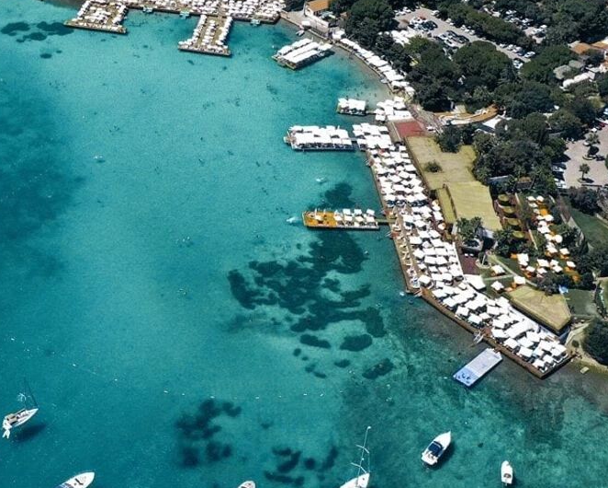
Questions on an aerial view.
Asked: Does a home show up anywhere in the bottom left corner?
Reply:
No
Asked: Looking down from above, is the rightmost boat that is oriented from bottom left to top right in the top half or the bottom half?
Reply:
bottom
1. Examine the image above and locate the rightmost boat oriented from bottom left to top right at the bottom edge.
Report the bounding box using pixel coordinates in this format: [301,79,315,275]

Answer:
[418,429,452,470]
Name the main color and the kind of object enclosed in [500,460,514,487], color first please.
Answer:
white boat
